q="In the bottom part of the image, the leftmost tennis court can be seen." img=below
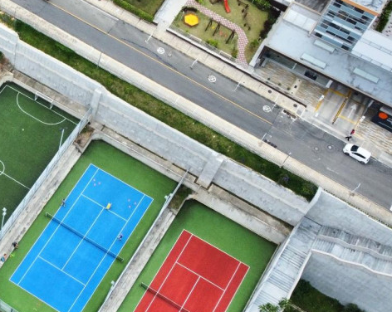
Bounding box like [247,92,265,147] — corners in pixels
[0,143,179,312]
